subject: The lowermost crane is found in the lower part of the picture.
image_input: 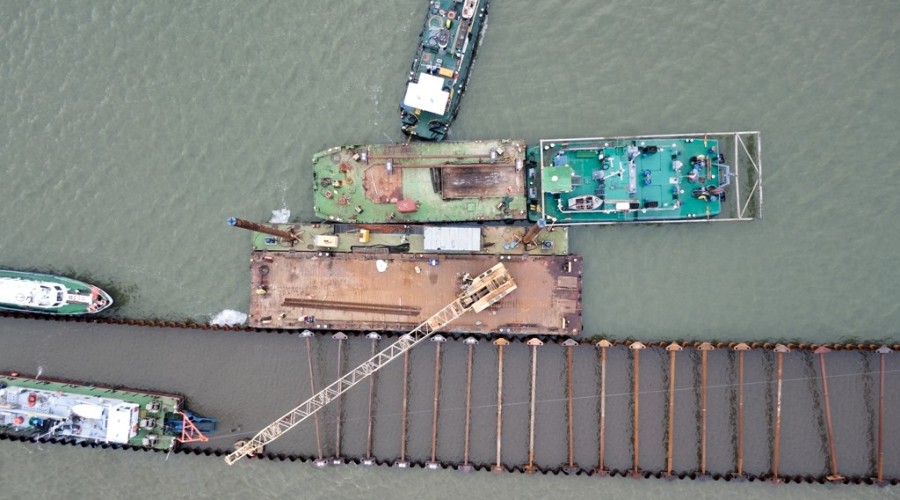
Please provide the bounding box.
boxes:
[225,263,517,464]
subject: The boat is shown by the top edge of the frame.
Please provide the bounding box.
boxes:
[399,0,491,142]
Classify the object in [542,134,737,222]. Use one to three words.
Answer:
boat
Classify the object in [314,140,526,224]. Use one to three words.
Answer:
ship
